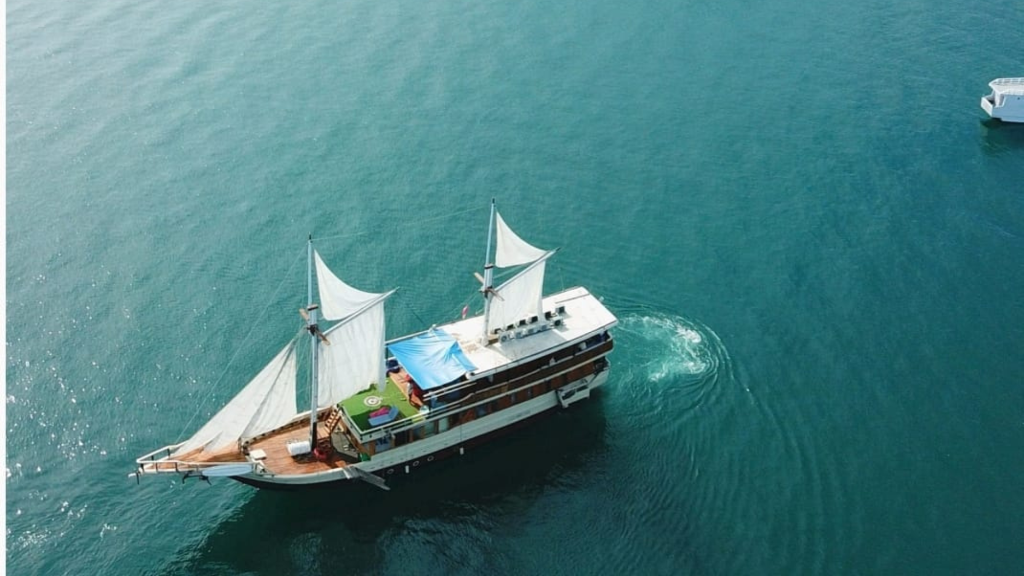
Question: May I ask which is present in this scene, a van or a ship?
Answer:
ship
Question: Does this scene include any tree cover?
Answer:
No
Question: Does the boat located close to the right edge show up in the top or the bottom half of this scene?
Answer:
top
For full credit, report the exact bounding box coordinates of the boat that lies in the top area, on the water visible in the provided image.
[983,74,1024,121]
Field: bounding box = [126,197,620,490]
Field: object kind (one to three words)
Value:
ship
